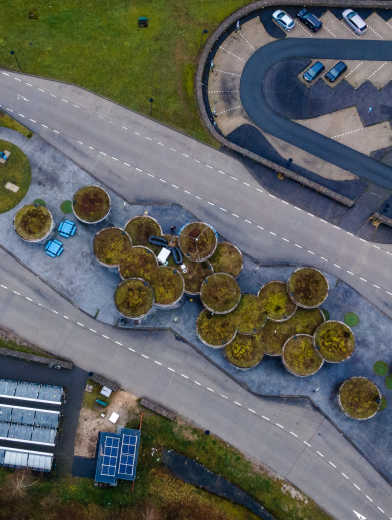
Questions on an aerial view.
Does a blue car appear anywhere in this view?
Yes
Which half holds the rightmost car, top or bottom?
top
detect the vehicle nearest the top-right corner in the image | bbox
[343,8,370,33]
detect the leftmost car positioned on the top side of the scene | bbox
[272,7,296,30]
